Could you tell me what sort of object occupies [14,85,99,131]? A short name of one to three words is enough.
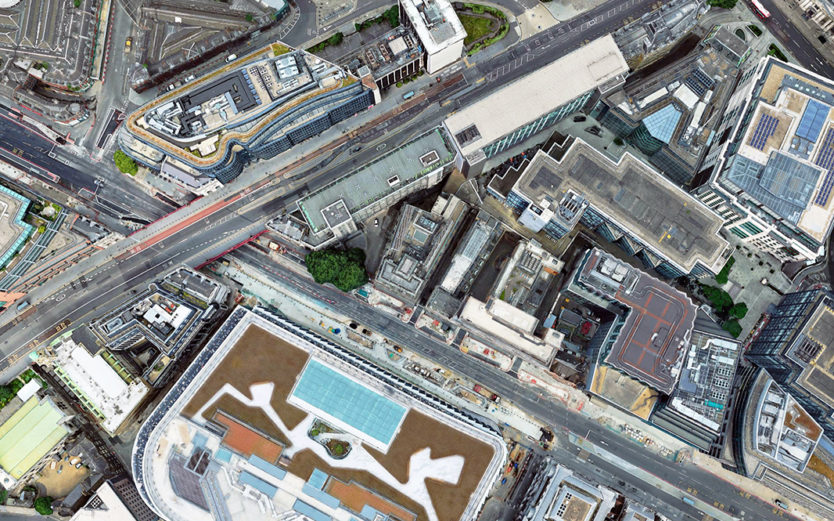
building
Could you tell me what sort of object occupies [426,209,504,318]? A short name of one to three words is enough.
building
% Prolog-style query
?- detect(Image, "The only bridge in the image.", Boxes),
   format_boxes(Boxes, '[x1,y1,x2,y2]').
[118,194,271,270]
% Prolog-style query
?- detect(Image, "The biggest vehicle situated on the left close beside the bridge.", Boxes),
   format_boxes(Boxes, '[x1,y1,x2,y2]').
[264,240,284,253]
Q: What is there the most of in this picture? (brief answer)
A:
buildings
